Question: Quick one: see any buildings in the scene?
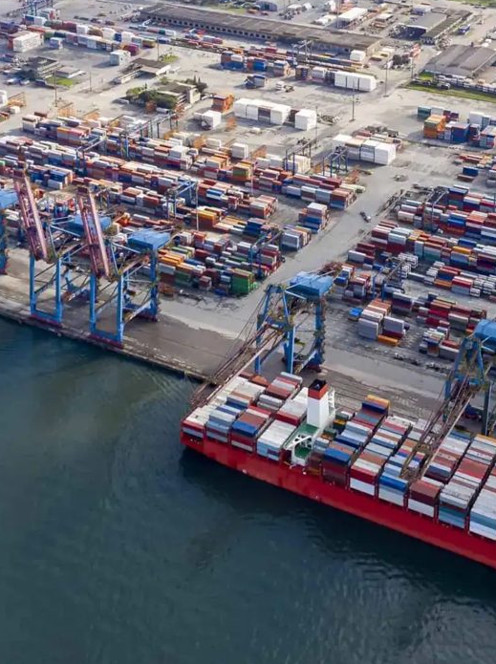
Yes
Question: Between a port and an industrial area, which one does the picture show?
port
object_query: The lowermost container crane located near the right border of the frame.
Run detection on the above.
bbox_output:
[387,315,496,484]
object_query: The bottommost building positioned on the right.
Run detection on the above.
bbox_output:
[423,47,496,84]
